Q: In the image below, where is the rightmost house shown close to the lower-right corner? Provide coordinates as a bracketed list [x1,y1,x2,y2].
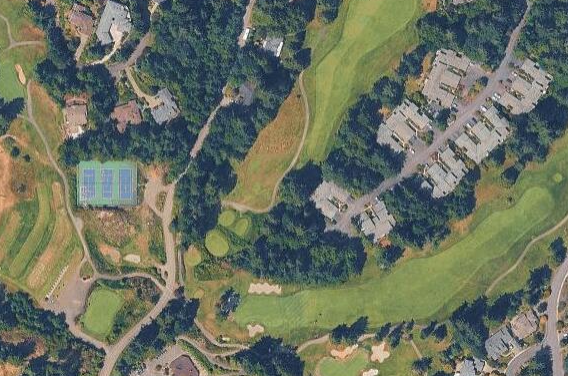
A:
[508,309,541,339]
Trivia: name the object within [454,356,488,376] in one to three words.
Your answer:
house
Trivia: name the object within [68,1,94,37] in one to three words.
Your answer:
house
